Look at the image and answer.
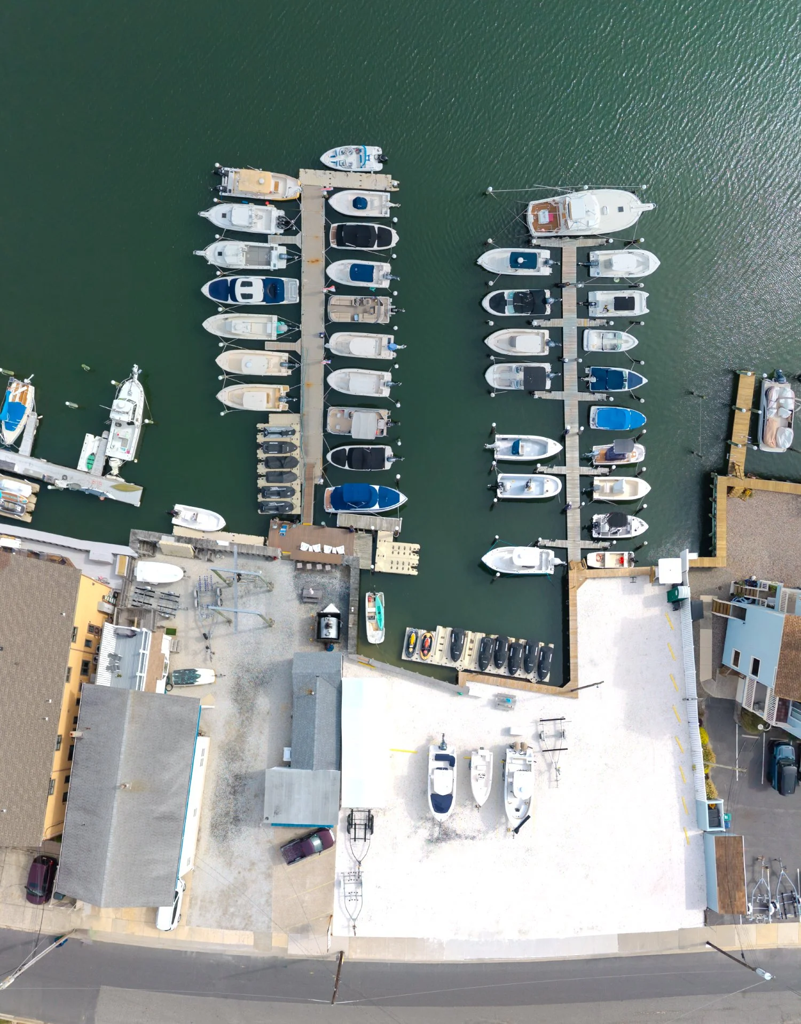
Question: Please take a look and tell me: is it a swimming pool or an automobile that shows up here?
automobile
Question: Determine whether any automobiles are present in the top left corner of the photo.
No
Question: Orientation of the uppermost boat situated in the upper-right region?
horizontally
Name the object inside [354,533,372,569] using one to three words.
pier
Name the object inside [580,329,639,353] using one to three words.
boat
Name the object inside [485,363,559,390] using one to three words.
boat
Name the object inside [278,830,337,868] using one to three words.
truck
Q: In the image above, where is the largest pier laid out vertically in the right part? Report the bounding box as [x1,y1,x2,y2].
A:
[533,238,610,563]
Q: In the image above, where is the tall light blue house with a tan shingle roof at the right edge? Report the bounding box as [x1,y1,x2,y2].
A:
[709,580,801,744]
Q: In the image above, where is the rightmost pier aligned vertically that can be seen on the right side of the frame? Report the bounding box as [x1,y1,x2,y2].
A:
[723,372,755,476]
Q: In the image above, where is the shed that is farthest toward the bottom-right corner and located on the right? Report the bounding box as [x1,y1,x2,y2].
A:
[703,827,748,915]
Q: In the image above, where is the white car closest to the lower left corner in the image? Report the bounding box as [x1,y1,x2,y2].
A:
[156,877,190,934]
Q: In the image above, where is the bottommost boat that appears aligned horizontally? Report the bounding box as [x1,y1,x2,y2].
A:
[172,668,216,686]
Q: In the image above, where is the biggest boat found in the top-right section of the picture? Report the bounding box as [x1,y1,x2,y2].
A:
[522,178,655,237]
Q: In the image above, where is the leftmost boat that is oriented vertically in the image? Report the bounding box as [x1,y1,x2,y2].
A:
[0,369,38,444]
